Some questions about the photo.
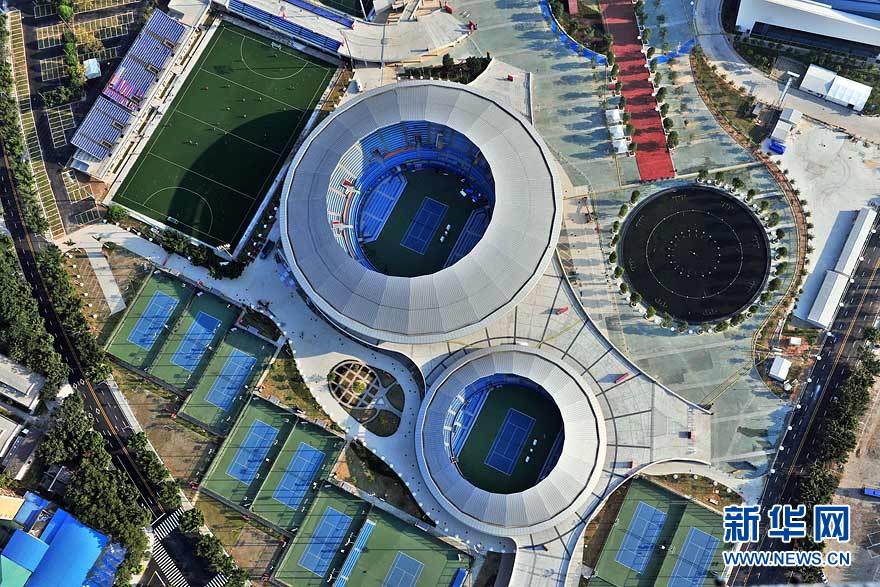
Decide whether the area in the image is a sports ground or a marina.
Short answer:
sports ground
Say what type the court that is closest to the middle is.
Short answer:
tennis court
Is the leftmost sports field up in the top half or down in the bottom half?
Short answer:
top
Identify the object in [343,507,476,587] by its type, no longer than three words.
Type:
tennis court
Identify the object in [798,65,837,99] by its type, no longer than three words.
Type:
tent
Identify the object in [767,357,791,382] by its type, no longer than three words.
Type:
shed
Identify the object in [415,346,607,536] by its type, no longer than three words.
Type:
stadium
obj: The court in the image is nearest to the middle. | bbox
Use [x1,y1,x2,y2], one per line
[360,165,490,276]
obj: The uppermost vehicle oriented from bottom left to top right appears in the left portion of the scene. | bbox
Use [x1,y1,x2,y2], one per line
[260,241,272,256]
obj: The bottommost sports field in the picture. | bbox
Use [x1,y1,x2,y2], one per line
[105,17,341,257]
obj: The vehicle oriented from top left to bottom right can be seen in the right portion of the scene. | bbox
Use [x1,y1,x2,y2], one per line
[817,569,833,584]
